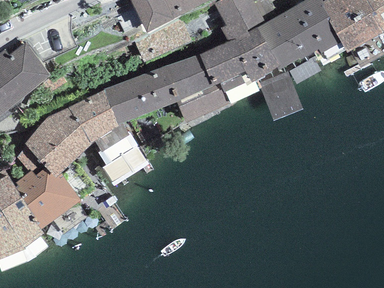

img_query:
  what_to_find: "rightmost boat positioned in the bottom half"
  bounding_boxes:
[159,240,186,257]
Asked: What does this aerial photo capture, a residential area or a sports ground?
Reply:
residential area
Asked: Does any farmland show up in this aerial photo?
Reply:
No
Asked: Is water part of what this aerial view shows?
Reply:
Yes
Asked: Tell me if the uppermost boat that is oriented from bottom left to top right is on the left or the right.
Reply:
right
